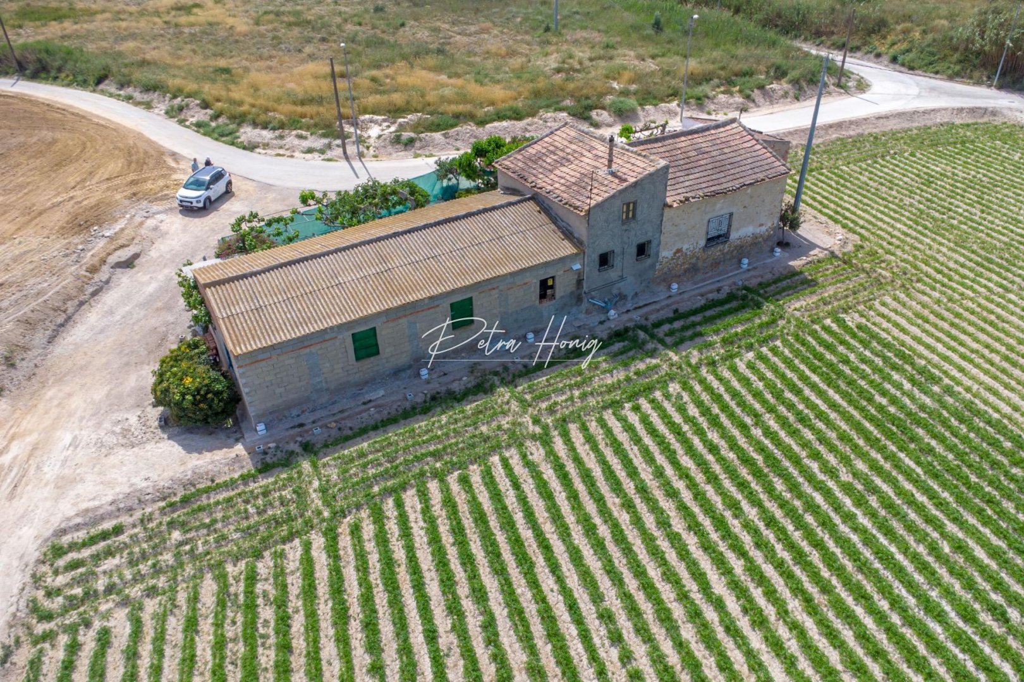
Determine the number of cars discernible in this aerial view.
one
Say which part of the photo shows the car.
top left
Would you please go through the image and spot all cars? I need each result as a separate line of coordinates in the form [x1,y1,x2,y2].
[172,164,232,208]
